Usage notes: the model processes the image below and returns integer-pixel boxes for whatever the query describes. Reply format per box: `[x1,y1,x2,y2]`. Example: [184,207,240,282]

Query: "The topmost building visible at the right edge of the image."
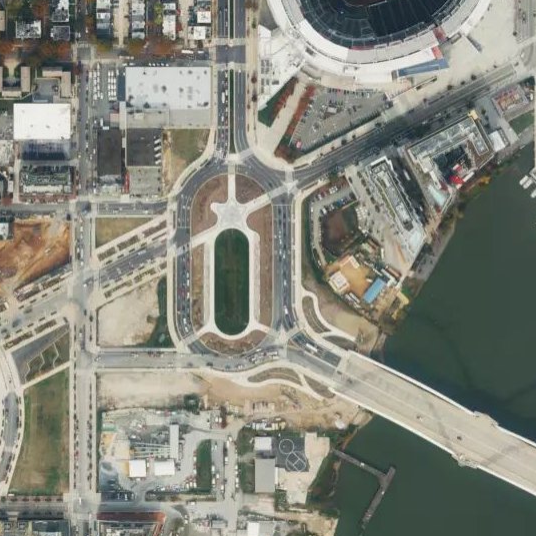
[492,87,529,118]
